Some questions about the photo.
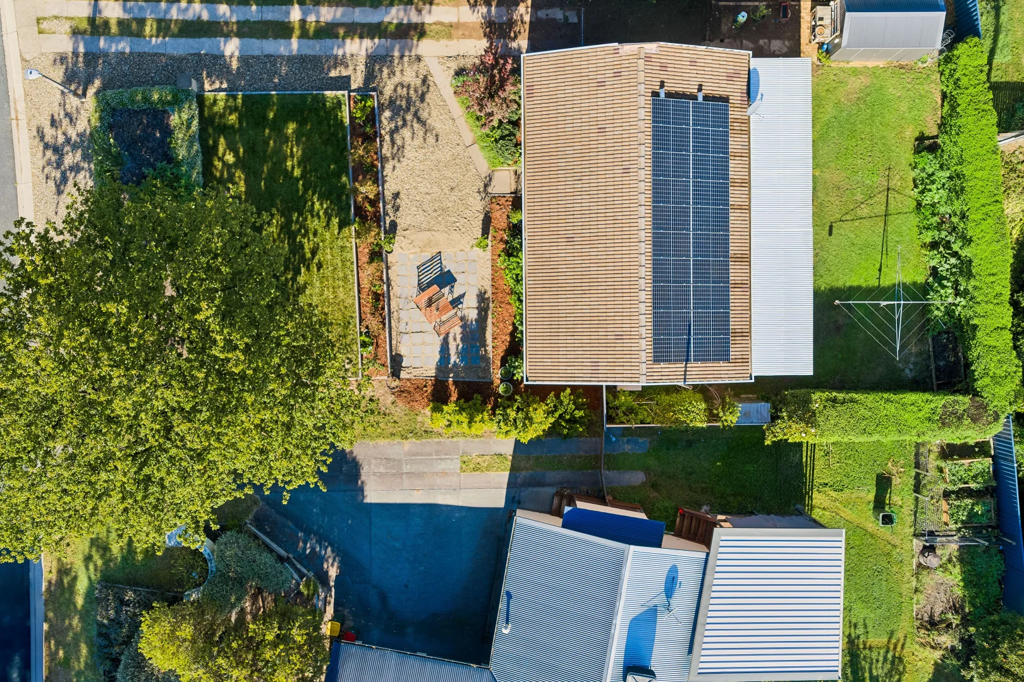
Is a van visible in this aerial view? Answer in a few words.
No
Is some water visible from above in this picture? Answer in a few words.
No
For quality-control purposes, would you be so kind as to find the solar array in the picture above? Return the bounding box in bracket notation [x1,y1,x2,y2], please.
[652,90,730,364]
